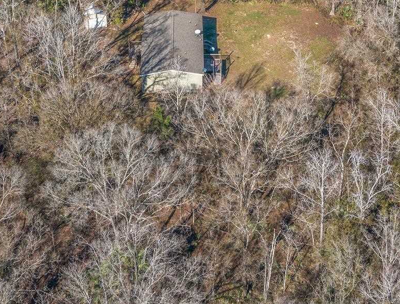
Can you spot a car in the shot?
No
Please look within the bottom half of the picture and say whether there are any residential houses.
No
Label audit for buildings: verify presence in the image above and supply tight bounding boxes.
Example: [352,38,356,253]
[87,1,109,29]
[139,10,203,90]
